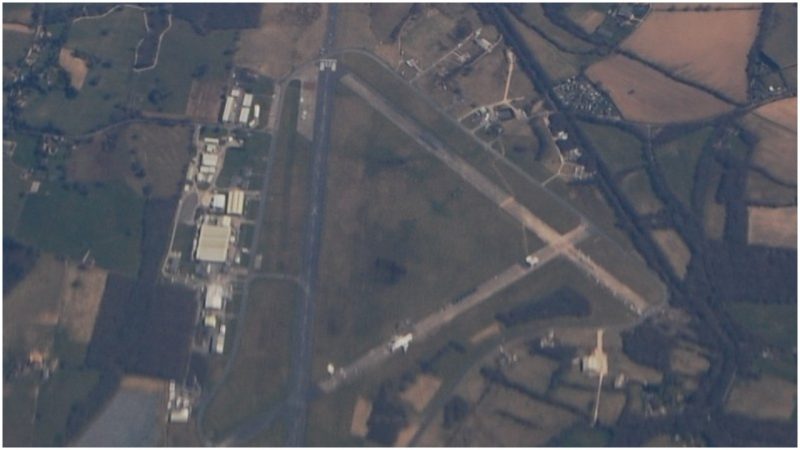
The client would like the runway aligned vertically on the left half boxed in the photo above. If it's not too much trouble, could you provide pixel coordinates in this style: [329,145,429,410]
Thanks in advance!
[286,49,337,450]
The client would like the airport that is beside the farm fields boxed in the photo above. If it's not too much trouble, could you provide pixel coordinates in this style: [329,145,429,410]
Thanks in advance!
[195,0,659,450]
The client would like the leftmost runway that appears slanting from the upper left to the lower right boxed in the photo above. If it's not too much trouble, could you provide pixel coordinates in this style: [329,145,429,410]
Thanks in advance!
[340,74,512,205]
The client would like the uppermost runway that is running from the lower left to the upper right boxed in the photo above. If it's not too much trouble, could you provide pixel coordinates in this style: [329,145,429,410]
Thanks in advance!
[317,223,593,391]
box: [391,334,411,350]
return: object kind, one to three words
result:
airplane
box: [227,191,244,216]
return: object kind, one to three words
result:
hangar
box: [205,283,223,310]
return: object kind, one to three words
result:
hangar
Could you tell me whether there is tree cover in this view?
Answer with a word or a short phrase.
Yes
